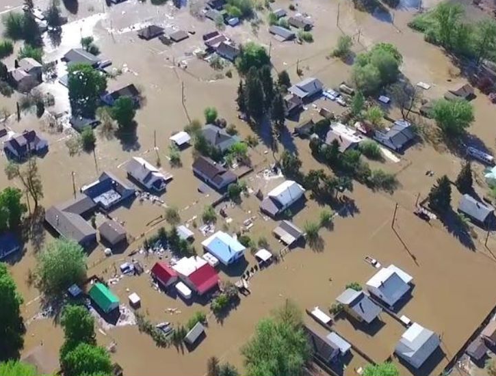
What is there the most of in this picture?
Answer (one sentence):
Most of the picture is covered by water.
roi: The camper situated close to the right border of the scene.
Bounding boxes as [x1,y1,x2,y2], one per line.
[466,147,493,166]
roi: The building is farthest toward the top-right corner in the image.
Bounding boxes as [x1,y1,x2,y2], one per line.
[438,85,480,104]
